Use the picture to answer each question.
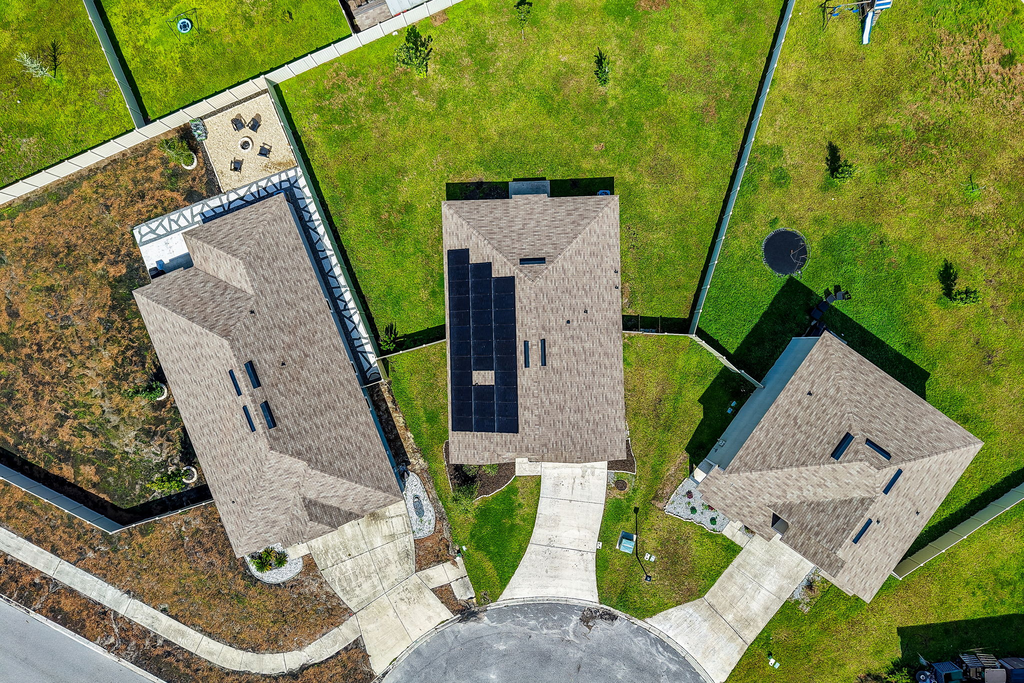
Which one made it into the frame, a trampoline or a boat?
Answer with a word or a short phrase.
trampoline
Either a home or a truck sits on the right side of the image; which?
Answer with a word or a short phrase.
home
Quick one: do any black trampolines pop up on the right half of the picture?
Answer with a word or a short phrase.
Yes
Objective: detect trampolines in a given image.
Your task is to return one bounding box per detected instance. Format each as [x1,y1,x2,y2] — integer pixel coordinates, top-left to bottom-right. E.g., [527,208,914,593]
[762,229,809,276]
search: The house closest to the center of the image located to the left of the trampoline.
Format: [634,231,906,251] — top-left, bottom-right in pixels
[440,194,626,465]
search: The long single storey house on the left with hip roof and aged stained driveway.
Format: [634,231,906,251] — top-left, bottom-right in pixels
[132,193,404,559]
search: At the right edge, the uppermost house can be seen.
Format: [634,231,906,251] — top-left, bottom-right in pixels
[690,330,984,603]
